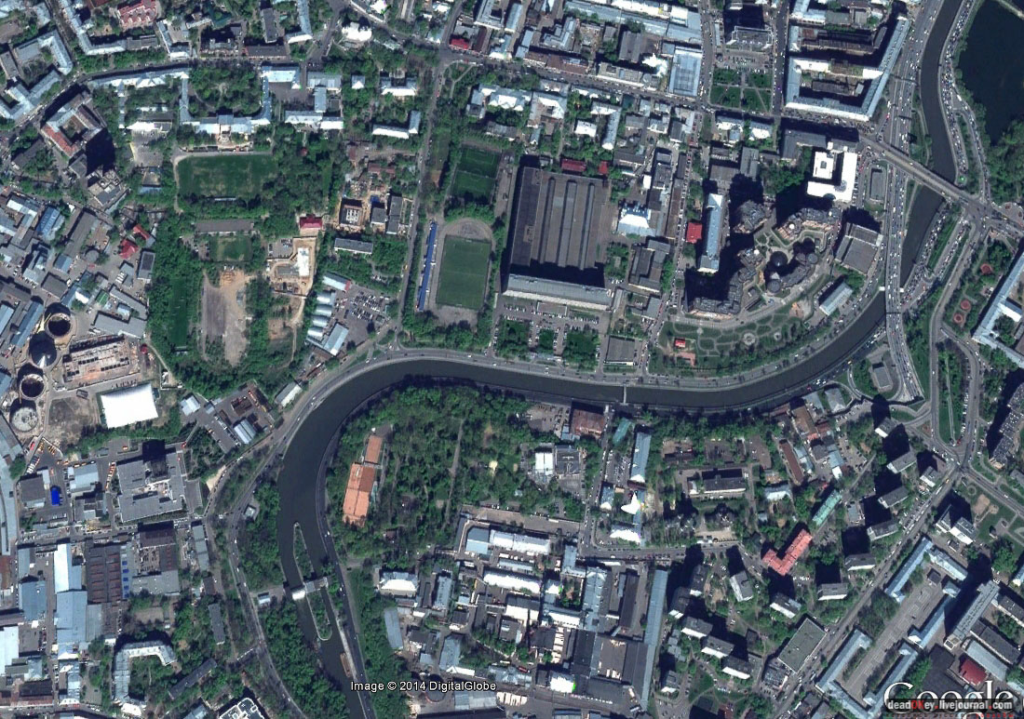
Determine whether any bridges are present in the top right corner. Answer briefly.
Yes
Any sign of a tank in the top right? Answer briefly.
No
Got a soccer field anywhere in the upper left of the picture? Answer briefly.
Yes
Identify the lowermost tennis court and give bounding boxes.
[343,461,375,526]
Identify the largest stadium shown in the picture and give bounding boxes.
[433,217,496,325]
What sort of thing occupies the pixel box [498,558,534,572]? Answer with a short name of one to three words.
building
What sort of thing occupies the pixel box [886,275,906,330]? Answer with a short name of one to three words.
bridge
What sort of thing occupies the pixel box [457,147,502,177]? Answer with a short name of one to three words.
soccer field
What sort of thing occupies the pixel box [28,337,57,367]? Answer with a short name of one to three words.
storage tank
